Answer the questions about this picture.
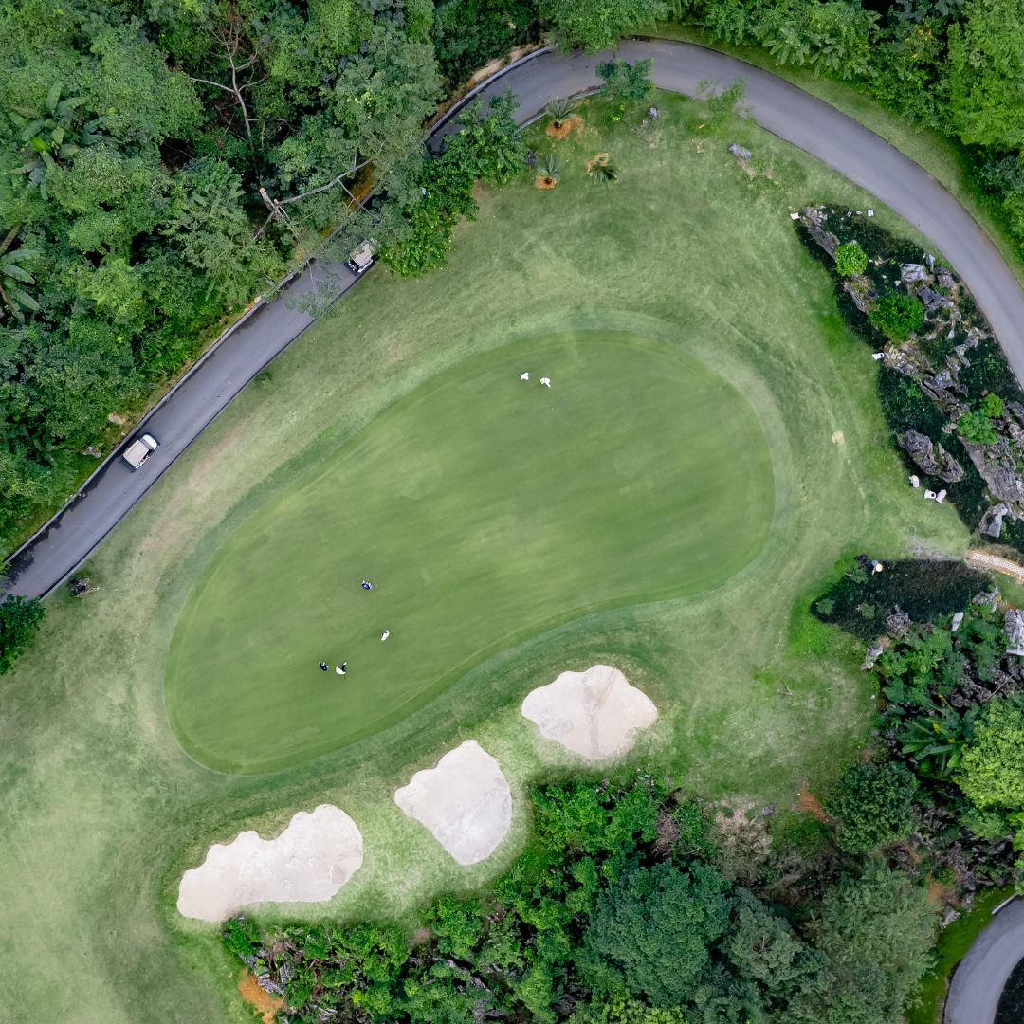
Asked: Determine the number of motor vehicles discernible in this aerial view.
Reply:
2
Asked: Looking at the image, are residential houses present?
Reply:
No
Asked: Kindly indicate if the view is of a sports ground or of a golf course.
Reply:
golf course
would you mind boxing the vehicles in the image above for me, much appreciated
[346,241,379,276]
[122,435,159,468]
